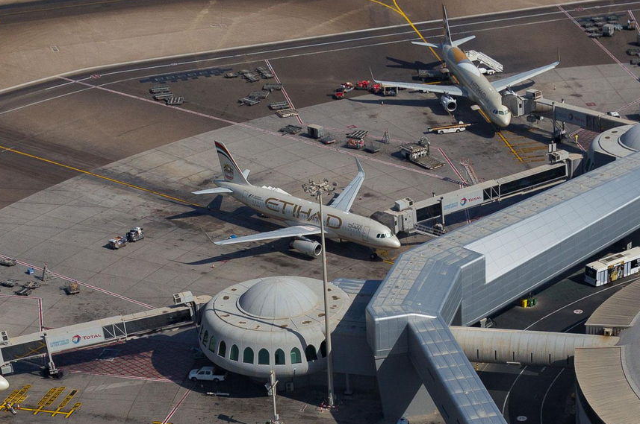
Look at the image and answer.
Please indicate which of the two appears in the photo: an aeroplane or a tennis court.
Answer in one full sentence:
This aerial view contains an aeroplane.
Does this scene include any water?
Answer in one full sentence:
No, no water is visible.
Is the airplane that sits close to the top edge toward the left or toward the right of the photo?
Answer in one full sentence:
It is on the right.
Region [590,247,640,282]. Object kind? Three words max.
bus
